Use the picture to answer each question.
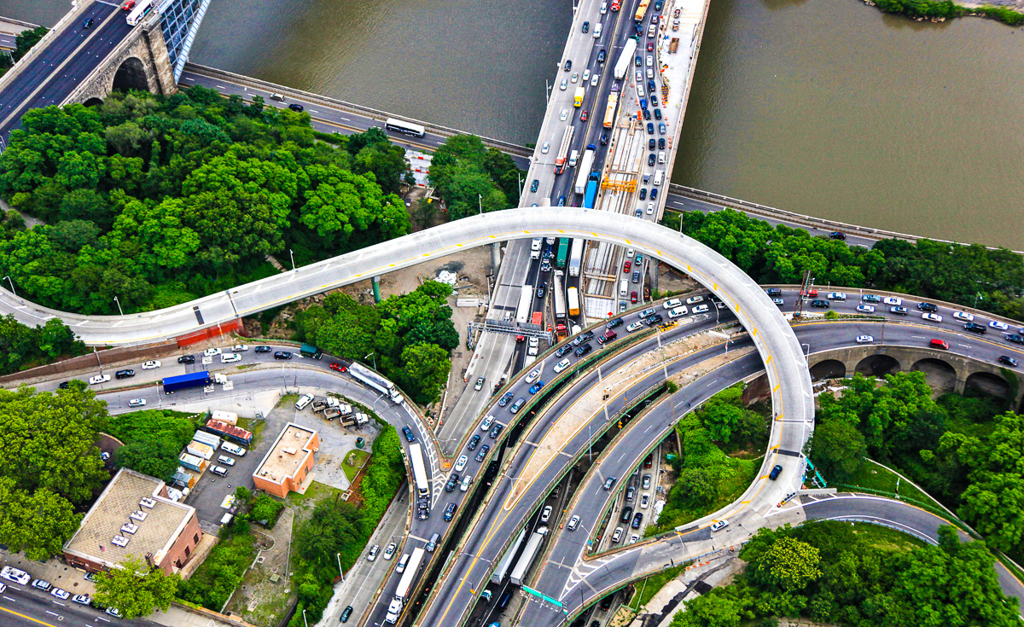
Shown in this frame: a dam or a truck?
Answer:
truck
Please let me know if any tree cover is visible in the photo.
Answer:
Yes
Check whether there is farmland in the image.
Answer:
No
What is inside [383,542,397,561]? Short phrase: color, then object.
white car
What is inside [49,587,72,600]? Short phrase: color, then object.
white vehicle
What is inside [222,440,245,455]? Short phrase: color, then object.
white vehicle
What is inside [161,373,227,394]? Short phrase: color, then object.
blue truck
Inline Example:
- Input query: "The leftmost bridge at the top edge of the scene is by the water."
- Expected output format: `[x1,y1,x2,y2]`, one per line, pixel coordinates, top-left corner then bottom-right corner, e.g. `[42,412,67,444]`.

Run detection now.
[0,0,228,201]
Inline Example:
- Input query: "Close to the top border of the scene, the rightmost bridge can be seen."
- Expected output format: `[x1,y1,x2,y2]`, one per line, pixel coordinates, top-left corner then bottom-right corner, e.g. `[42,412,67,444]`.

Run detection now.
[516,0,716,226]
